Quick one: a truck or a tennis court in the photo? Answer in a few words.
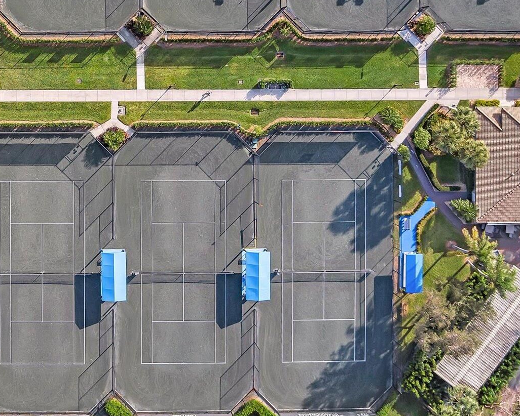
tennis court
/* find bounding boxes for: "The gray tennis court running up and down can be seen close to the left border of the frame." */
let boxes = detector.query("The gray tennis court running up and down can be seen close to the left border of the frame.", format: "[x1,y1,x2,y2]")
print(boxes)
[0,132,114,412]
